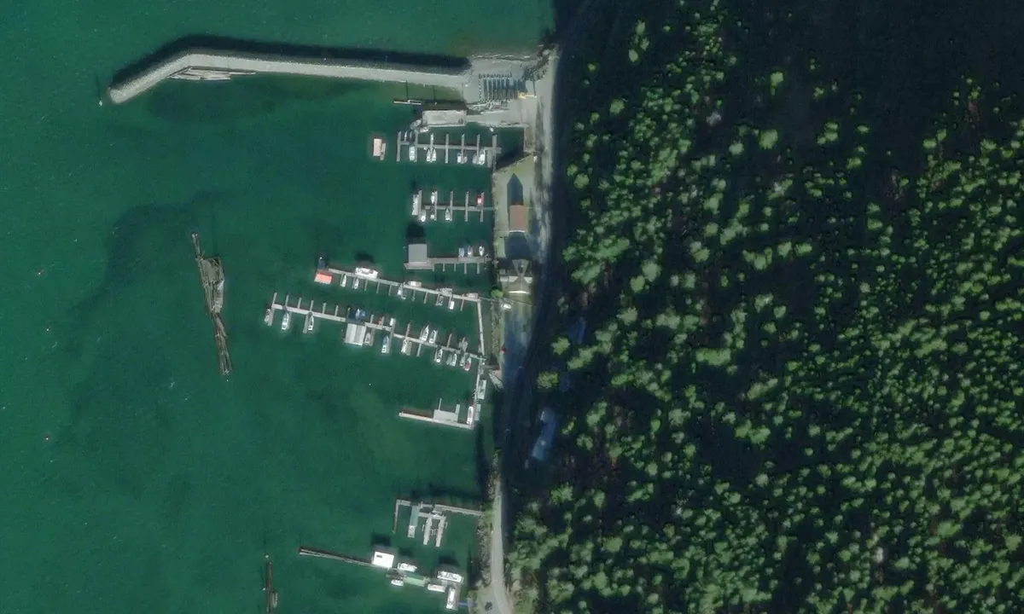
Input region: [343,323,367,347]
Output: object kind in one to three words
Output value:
building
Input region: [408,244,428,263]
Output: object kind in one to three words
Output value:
building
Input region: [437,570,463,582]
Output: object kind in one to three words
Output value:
boat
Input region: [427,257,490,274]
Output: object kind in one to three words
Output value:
pier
